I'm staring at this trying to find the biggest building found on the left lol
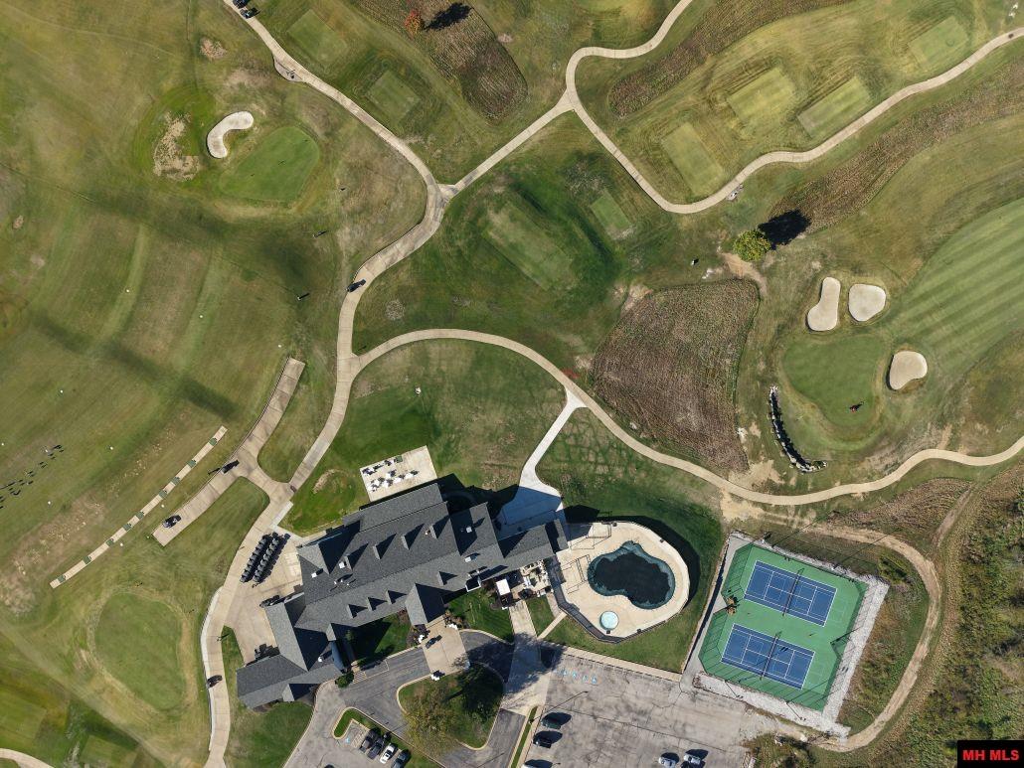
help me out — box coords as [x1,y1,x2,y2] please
[238,483,568,709]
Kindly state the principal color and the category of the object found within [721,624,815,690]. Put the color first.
blue tennis court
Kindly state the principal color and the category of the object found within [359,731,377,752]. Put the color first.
gray vehicle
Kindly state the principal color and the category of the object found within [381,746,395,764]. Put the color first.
white car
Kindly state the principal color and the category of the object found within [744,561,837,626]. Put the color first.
blue tennis court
